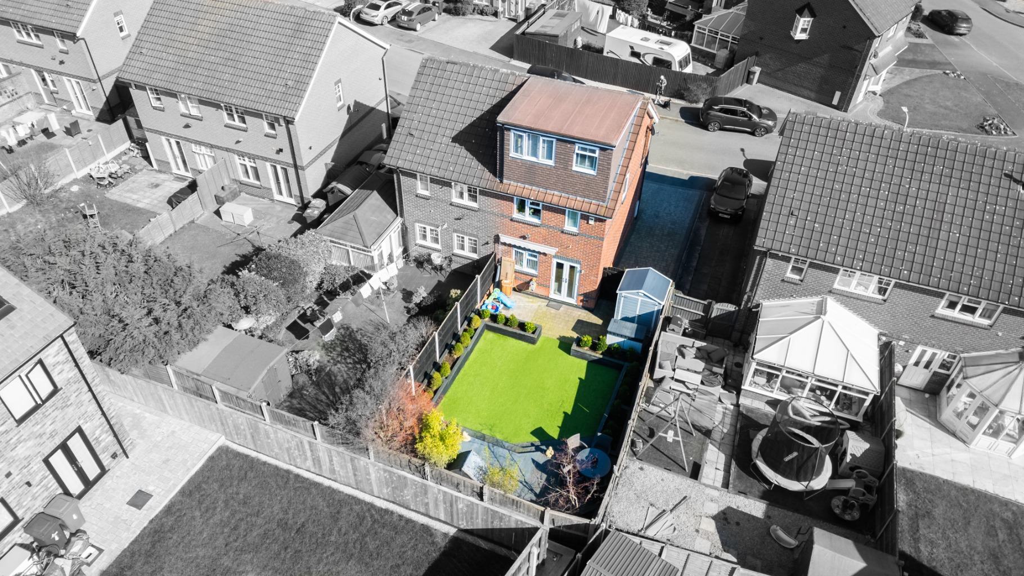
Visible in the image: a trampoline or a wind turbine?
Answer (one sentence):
I can see a trampoline in this picture.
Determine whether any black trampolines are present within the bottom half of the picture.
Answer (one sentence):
Yes, the scene does show a black trampoline within the bottom half of the picture.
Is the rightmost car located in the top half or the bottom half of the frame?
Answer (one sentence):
The rightmost car is in the top half of the image.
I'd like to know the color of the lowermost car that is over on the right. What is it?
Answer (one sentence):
From above, the lowermost car that is over on the right appears black.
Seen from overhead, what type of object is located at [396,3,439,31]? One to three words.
car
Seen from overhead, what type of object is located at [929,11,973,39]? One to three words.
car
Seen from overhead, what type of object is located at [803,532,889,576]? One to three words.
shed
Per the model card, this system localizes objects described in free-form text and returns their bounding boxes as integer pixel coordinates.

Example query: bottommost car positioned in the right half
[708,157,756,215]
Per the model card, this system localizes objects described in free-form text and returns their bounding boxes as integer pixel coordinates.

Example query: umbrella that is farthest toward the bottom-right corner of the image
[638,497,688,540]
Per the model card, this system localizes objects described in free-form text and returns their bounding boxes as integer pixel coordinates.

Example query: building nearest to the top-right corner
[738,0,903,109]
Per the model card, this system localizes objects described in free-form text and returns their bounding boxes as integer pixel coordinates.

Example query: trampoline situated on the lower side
[749,404,840,508]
